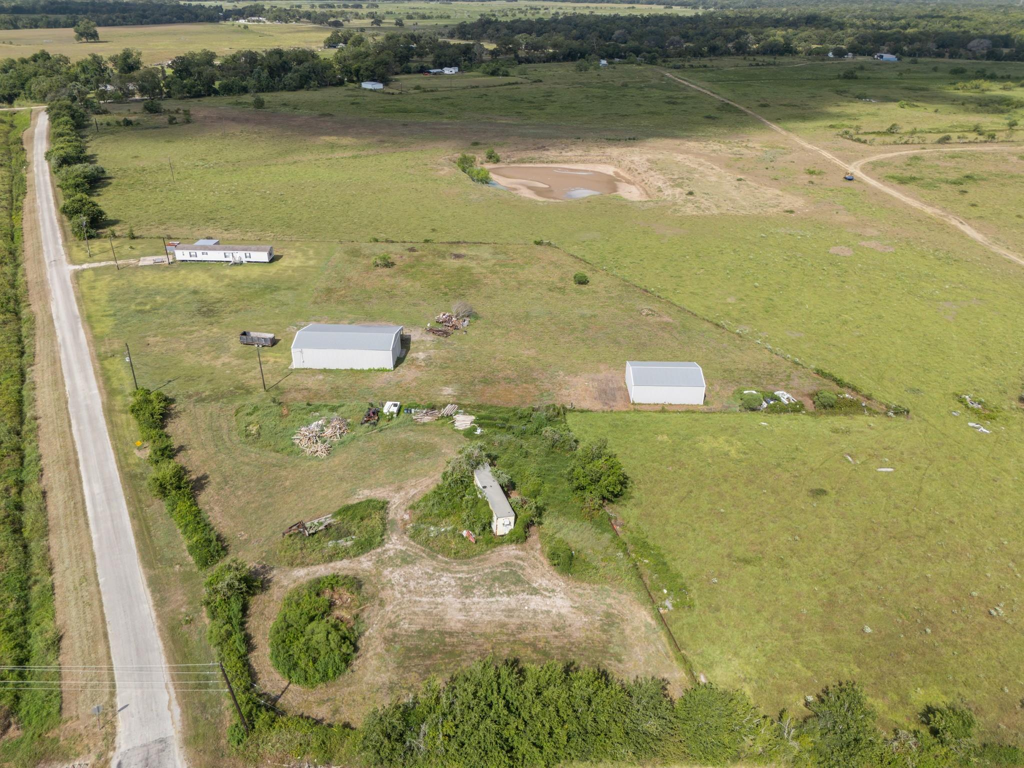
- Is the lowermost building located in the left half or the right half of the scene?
right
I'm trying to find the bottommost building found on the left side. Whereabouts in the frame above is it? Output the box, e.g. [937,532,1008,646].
[290,324,407,370]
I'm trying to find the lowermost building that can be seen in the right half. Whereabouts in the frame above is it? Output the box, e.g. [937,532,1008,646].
[625,361,708,405]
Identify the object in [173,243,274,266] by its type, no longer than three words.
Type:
house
